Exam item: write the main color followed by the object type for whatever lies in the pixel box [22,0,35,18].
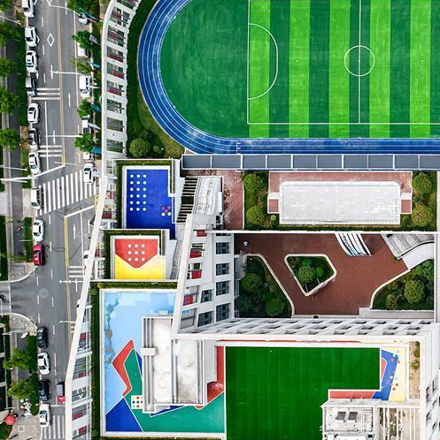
white vehicle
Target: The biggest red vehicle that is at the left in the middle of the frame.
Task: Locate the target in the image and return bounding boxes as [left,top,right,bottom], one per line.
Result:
[34,244,47,266]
